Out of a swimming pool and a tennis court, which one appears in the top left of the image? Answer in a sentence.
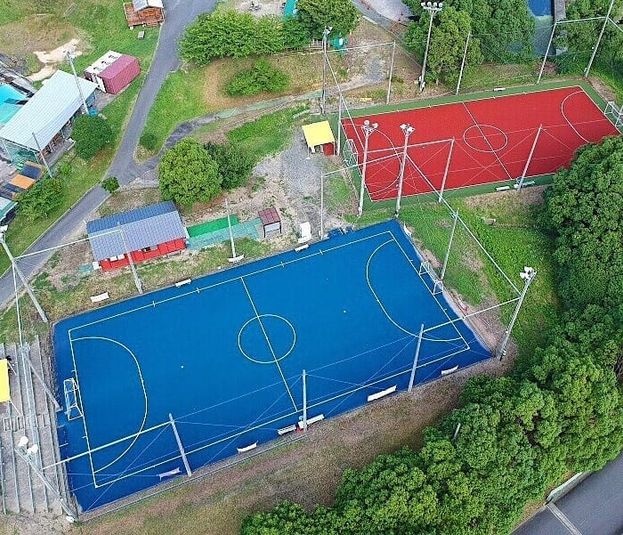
The one visible in the top left of the image is a swimming pool.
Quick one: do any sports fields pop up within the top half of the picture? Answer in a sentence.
Yes, a sports field is visible within the top half of the picture.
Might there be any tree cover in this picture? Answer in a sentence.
Yes, tree cover can be seen from above here.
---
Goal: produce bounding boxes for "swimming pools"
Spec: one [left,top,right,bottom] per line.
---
[526,0,553,20]
[0,93,25,125]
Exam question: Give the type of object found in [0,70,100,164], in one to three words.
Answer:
building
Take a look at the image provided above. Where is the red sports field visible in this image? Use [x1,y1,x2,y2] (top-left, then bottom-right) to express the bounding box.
[321,77,623,215]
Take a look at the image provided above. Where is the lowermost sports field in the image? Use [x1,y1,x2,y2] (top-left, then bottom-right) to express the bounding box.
[50,219,495,516]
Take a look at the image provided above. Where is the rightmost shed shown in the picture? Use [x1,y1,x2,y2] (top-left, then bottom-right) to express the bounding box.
[303,121,335,161]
